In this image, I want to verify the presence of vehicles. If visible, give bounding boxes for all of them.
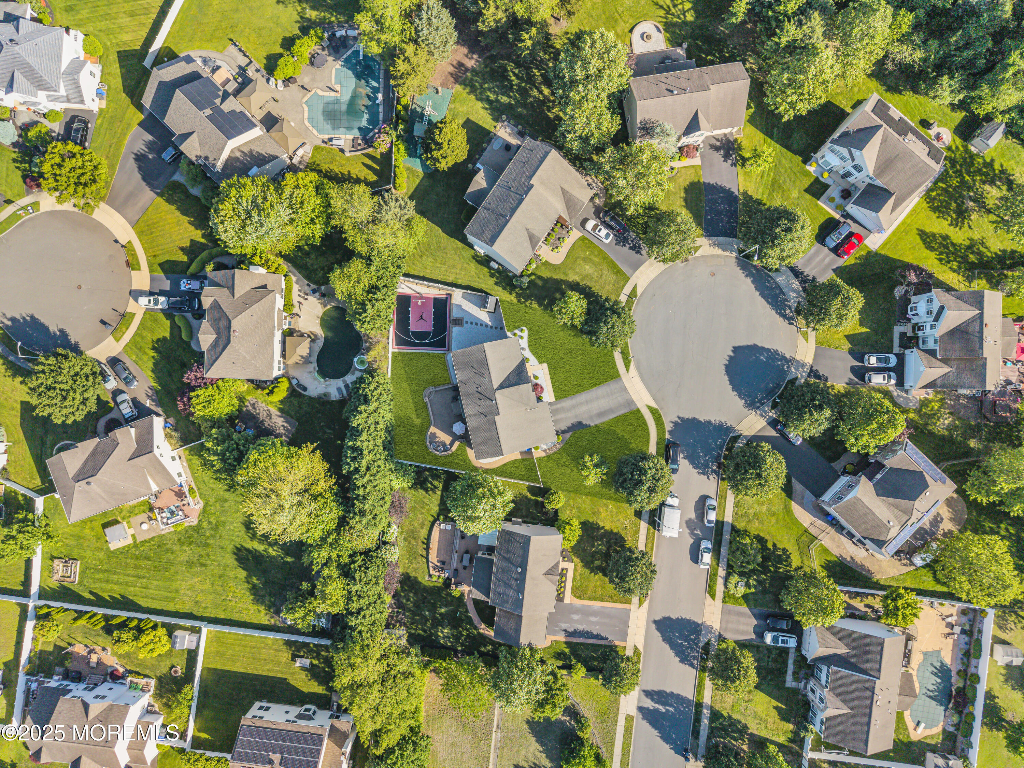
[864,371,896,386]
[70,118,90,147]
[95,359,120,391]
[667,443,683,474]
[823,219,853,250]
[663,493,685,542]
[115,392,139,422]
[167,295,200,310]
[159,141,185,164]
[774,424,803,447]
[112,360,139,390]
[836,233,864,260]
[864,353,897,367]
[703,497,719,527]
[764,631,798,648]
[697,539,713,569]
[765,614,792,631]
[137,295,167,309]
[177,277,208,292]
[583,219,615,243]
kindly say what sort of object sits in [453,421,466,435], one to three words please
umbrella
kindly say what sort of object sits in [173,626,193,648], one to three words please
shed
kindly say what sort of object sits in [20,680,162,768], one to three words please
house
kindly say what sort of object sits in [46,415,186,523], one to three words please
house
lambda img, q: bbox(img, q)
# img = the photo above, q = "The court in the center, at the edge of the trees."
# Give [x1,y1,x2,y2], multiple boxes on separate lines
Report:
[393,293,450,350]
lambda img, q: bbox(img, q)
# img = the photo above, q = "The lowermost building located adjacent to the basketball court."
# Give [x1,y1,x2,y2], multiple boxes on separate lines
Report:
[450,337,558,460]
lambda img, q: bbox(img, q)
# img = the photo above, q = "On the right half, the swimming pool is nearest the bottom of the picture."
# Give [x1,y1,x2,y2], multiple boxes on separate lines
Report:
[907,647,956,732]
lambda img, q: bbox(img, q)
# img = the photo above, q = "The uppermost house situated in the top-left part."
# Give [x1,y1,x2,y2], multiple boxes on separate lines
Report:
[0,3,101,113]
